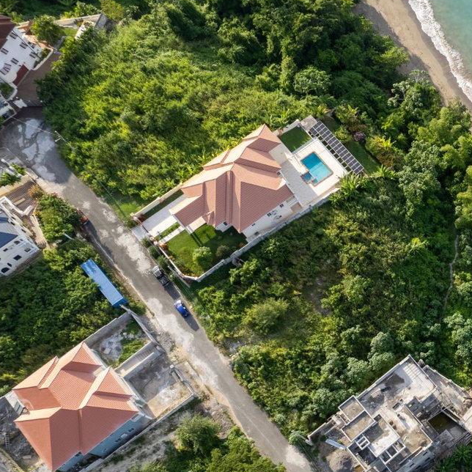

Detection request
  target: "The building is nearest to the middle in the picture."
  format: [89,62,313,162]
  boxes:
[170,124,294,239]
